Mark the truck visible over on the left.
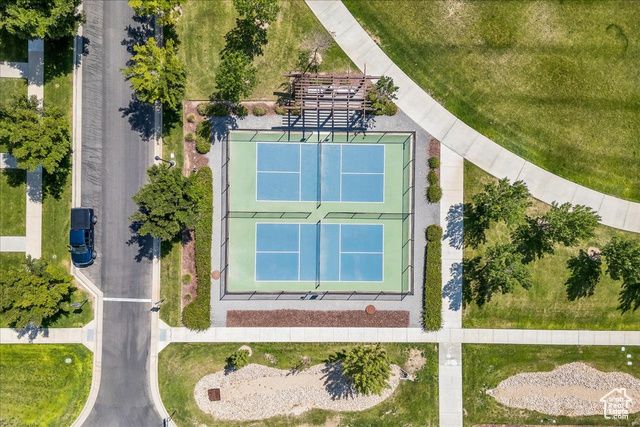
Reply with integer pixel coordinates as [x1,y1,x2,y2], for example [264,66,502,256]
[68,208,96,267]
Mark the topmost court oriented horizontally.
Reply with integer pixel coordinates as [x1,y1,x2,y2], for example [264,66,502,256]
[230,133,410,214]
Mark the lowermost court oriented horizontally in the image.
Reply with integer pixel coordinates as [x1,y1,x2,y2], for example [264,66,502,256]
[229,213,409,291]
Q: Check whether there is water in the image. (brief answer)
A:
No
